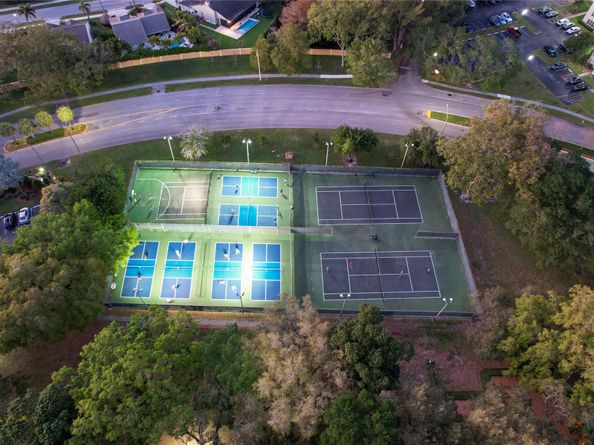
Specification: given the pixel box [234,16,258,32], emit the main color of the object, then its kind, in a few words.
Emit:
blue swimming pool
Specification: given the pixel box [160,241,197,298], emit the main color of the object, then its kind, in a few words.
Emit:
blue sports court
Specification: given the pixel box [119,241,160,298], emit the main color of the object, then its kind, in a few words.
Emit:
blue sports court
